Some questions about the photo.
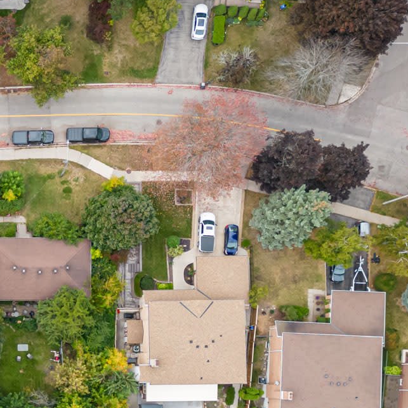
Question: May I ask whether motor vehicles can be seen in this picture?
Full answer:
Yes, the picture does show a motor vehicle.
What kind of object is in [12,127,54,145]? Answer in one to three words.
vehicle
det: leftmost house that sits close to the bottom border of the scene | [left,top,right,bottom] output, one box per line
[126,255,250,401]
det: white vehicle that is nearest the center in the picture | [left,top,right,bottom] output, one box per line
[197,212,216,253]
